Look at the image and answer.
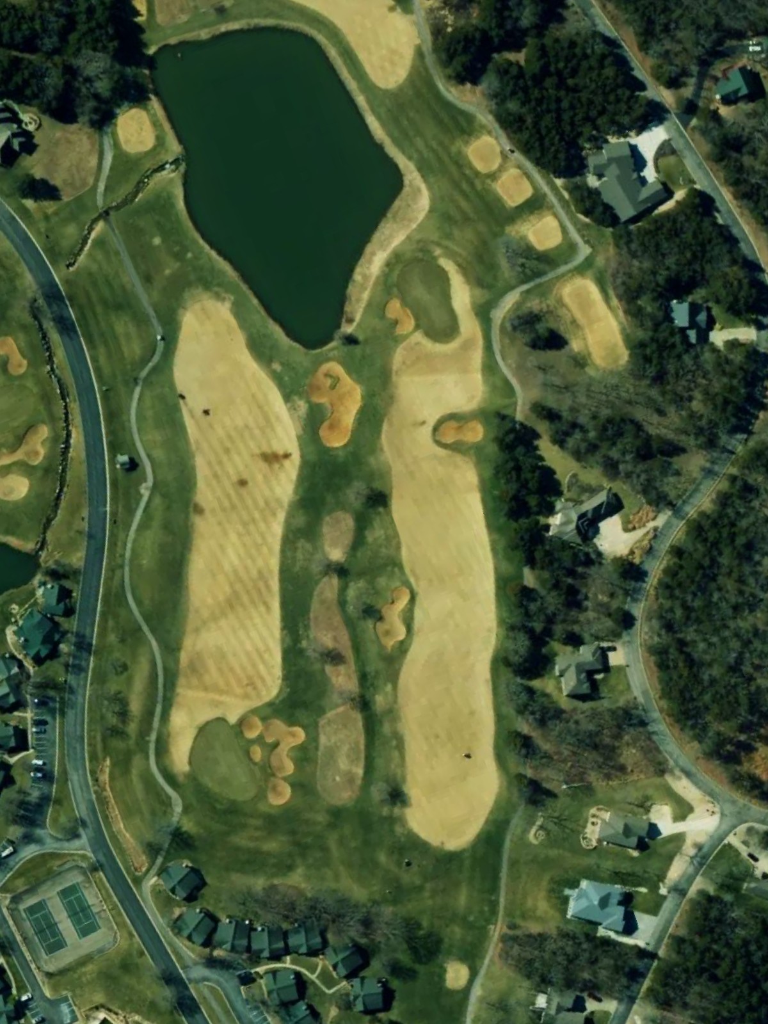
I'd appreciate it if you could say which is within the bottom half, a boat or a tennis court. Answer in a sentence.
What appears within the bottom half is a tennis court.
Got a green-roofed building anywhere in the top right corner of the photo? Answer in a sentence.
Yes, you'll find a green-roofed building in the top right corner of the photo.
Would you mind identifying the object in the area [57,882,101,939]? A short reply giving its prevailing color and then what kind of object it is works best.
green tennis court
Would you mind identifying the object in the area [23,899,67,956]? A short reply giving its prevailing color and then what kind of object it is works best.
green tennis court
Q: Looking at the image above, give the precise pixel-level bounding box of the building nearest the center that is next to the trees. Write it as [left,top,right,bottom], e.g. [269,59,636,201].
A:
[553,487,619,547]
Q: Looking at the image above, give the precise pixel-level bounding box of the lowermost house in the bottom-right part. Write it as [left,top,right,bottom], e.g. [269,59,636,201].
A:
[542,987,588,1024]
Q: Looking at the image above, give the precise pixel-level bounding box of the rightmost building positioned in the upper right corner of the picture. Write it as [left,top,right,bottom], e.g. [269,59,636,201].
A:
[717,64,758,105]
